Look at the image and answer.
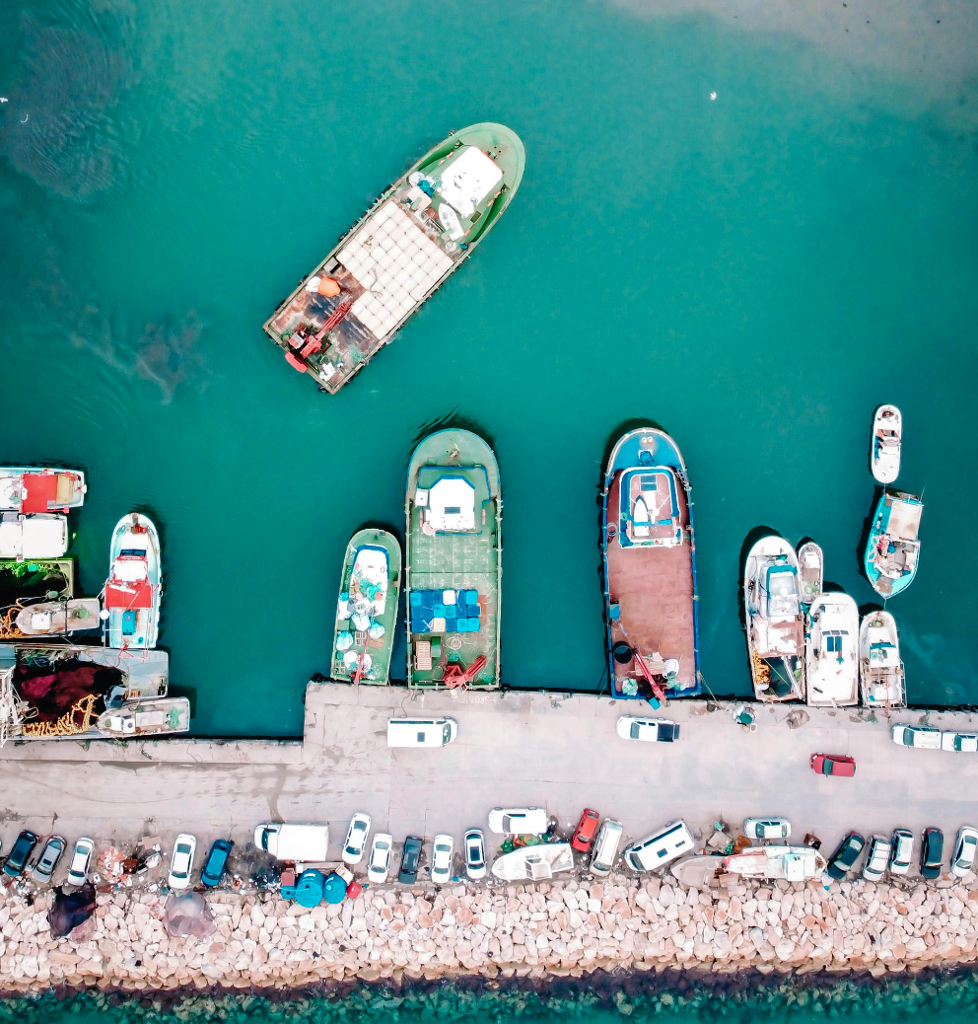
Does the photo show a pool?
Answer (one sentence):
No, I can see no pool in this picture.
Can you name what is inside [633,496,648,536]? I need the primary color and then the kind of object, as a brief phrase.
white boat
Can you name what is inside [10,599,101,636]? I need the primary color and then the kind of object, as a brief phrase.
white boat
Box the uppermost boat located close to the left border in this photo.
[0,467,87,513]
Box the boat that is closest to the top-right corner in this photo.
[870,404,902,483]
